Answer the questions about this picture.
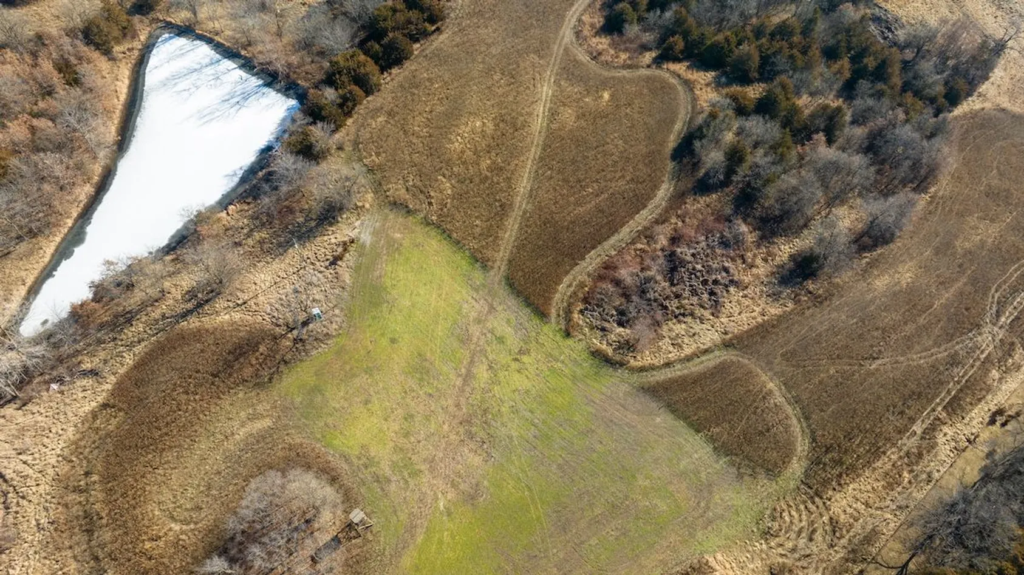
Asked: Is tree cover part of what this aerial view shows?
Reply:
Yes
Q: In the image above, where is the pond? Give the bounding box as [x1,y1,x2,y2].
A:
[9,23,304,342]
